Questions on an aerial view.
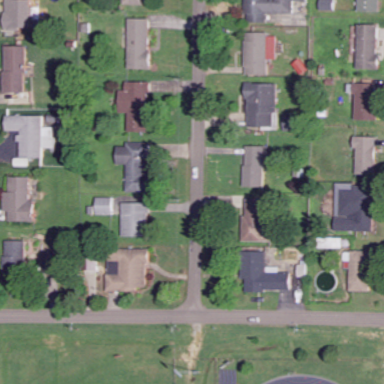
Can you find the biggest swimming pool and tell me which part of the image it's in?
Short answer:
bottom right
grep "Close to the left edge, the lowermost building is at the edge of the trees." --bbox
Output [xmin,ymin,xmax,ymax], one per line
[2,240,25,272]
